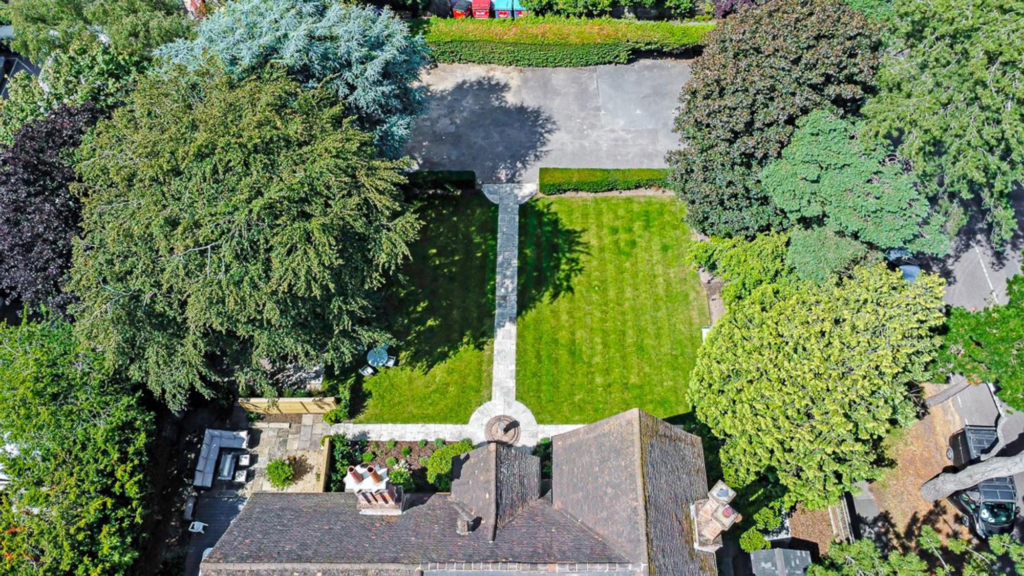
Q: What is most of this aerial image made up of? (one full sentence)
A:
Most of the picture is covered by trees.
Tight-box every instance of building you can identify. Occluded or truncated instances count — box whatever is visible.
[733,548,809,576]
[200,407,739,576]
